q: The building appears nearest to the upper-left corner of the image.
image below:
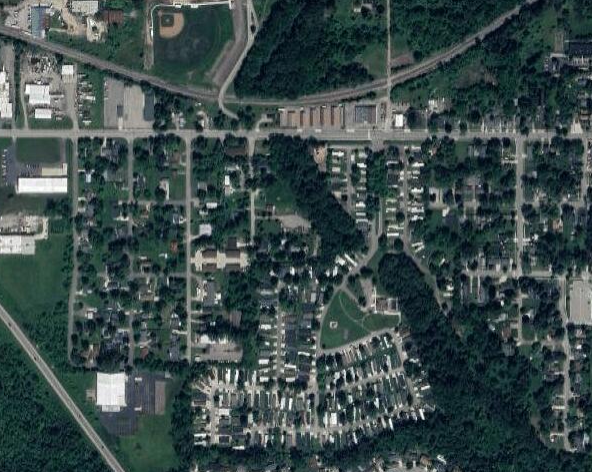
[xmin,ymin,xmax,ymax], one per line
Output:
[30,6,54,38]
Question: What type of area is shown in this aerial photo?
residential area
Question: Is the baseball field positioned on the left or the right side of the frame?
left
